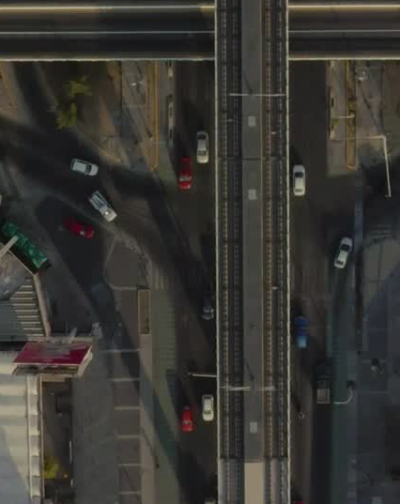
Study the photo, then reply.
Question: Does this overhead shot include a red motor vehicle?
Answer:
Yes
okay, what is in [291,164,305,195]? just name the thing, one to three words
car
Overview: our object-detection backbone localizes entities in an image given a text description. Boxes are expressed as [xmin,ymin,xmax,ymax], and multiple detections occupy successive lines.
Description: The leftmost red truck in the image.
[61,216,95,239]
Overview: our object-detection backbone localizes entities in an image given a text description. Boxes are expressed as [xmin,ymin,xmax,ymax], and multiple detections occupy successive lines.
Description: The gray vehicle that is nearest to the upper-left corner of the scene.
[69,158,99,177]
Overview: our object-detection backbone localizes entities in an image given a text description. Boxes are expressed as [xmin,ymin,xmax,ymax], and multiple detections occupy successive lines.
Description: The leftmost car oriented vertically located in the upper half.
[177,156,191,189]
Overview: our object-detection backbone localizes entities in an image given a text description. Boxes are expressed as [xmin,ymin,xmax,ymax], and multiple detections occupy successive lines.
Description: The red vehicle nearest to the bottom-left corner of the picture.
[179,404,194,430]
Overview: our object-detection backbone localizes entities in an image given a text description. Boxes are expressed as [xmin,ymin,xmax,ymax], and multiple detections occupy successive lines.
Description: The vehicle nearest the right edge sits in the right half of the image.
[334,236,352,268]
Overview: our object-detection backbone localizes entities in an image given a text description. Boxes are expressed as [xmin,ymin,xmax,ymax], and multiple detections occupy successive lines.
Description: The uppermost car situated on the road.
[195,130,209,162]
